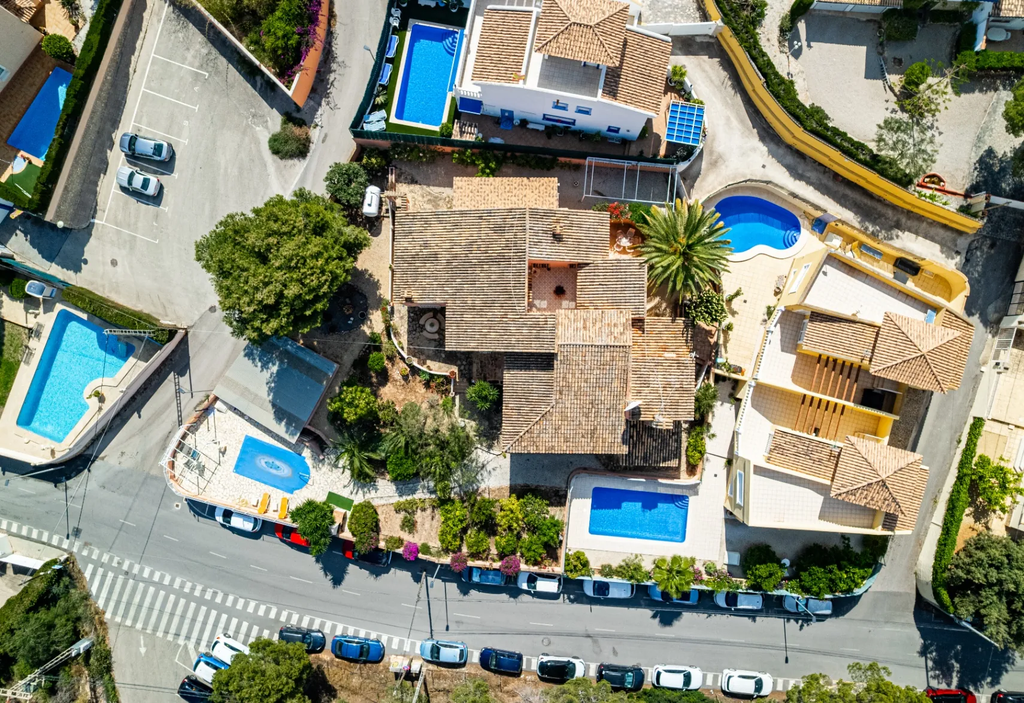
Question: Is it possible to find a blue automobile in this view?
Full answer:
Yes, a blue automobile can be made out from above.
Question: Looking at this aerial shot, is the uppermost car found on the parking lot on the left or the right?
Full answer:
The uppermost car found on the parking lot is on the left side of the image.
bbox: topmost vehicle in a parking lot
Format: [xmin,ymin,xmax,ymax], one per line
[121,132,176,163]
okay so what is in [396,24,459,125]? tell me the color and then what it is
blue swimming pool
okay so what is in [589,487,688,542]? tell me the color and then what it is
blue swimming pool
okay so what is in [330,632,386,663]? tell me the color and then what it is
blue car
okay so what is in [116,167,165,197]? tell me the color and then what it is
white car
